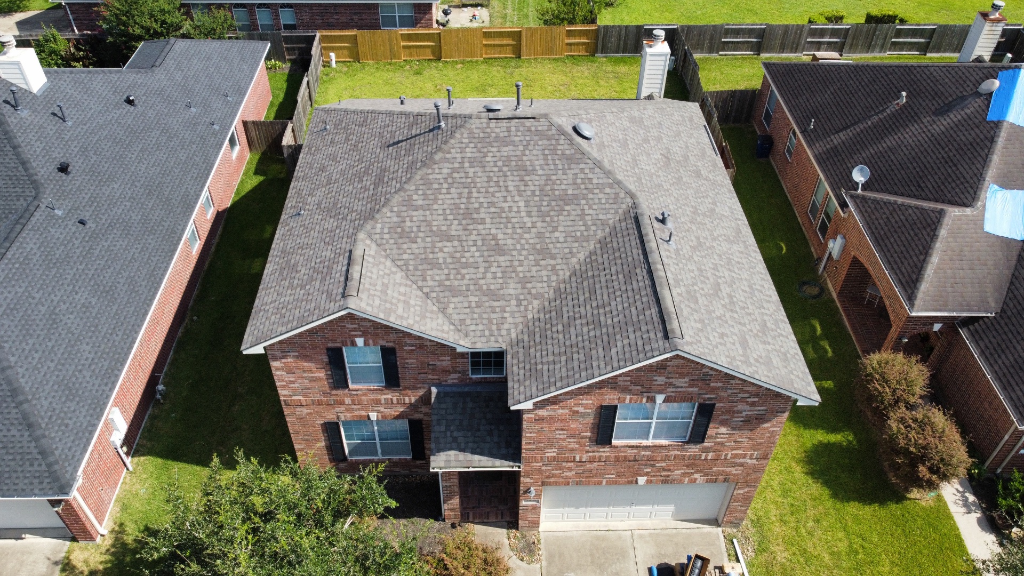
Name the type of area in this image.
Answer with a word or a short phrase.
residential area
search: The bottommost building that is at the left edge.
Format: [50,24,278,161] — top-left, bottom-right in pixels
[0,32,271,540]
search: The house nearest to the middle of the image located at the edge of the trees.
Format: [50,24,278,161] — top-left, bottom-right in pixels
[242,26,820,532]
